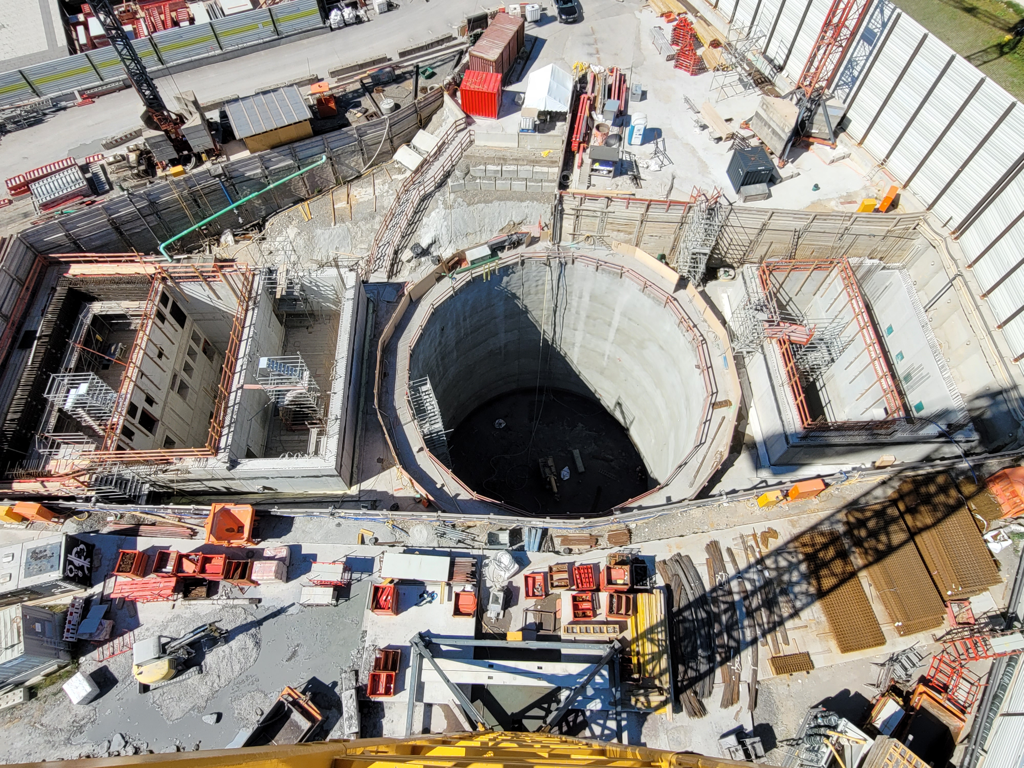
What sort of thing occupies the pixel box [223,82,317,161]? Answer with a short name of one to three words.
shed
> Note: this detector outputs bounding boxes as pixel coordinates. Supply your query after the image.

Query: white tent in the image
[522,64,573,130]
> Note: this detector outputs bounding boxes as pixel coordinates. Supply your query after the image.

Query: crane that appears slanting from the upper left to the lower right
[78,0,215,166]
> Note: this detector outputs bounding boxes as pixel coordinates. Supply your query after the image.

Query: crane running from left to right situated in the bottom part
[0,609,827,768]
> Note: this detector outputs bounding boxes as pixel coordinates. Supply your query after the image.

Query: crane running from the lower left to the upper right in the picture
[738,0,875,169]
